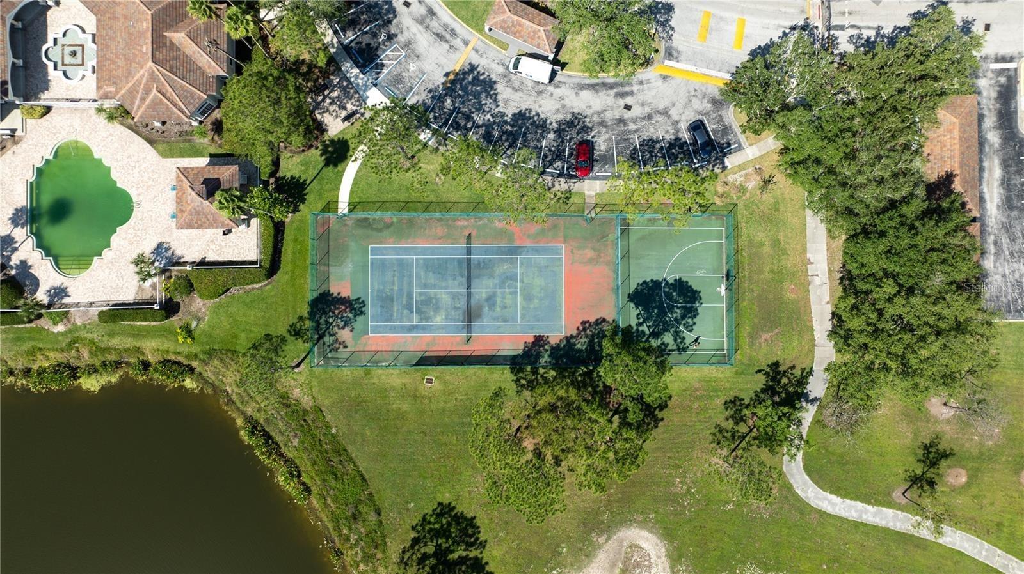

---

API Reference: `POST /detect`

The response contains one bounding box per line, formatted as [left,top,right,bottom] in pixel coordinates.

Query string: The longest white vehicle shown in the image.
[508,58,553,87]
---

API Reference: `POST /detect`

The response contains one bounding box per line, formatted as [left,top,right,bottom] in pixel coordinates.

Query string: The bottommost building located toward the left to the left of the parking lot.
[175,164,244,230]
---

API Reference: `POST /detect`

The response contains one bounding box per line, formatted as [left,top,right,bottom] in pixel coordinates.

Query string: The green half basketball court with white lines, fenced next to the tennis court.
[618,217,727,364]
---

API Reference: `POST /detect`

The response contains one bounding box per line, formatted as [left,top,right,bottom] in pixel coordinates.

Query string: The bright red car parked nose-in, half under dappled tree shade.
[575,139,594,177]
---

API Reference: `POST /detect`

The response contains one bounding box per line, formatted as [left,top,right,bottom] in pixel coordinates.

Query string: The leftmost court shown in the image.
[318,215,618,365]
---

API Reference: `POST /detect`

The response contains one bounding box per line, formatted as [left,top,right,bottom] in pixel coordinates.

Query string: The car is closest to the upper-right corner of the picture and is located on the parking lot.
[688,116,714,158]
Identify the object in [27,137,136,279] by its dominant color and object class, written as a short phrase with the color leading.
green swimming pool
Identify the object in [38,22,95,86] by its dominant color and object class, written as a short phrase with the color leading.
white fountain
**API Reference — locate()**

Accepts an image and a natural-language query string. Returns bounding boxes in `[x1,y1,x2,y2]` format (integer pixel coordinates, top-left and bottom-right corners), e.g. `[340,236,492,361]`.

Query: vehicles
[575,139,594,177]
[508,58,553,87]
[688,116,714,158]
